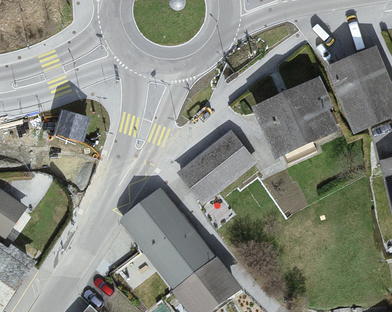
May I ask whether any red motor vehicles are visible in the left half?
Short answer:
Yes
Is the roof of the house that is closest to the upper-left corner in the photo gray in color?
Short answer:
Yes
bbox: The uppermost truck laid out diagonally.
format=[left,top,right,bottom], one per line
[310,22,333,46]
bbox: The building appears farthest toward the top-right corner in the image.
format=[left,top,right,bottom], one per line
[328,45,392,133]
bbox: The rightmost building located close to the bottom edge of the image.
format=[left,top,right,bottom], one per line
[172,256,242,312]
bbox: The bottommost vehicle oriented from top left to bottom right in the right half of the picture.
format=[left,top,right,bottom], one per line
[314,41,332,63]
